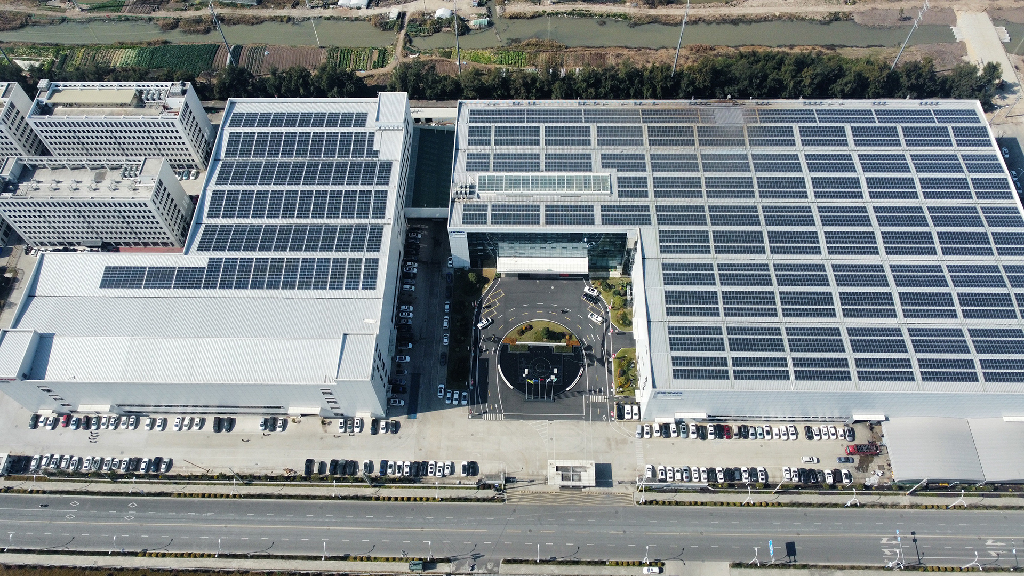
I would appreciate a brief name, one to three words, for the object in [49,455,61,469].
vehicle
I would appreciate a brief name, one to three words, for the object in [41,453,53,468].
vehicle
